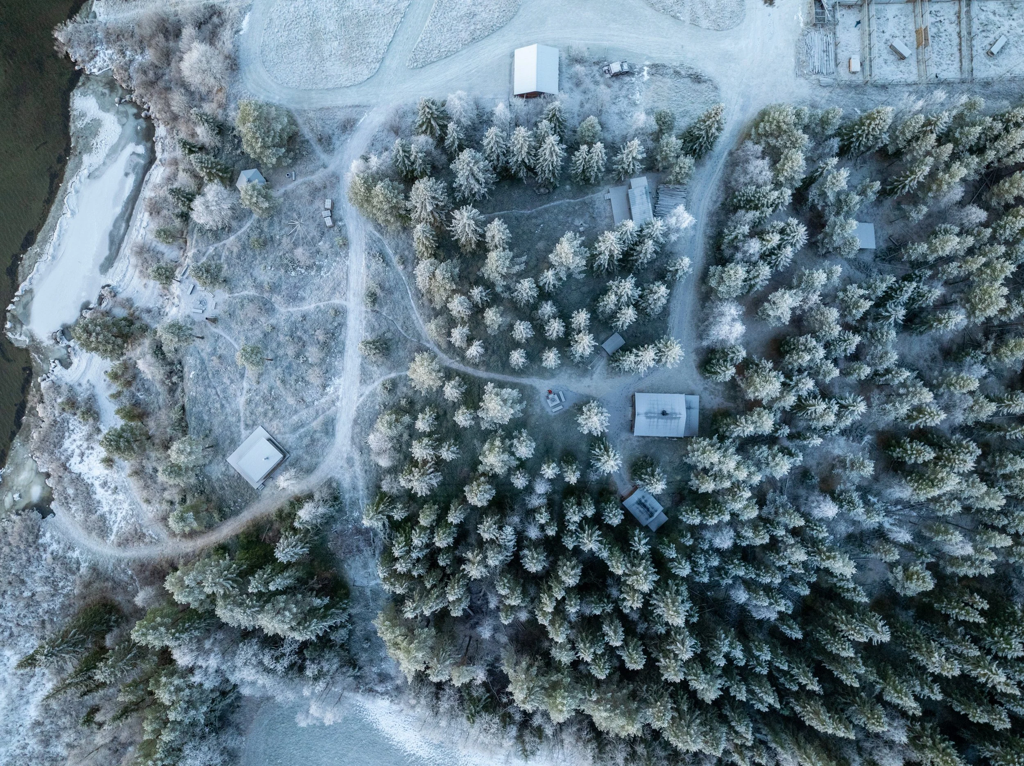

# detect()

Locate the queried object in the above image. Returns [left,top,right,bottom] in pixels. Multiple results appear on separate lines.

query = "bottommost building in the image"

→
[617,481,664,527]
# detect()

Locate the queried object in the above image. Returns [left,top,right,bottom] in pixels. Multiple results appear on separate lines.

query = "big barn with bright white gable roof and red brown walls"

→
[514,43,559,100]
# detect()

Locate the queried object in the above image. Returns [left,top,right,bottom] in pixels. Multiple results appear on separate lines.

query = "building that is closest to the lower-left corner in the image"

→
[227,425,290,493]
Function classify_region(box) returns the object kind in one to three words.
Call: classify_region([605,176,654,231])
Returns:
building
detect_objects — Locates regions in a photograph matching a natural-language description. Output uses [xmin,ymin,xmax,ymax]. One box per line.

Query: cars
[603,57,632,77]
